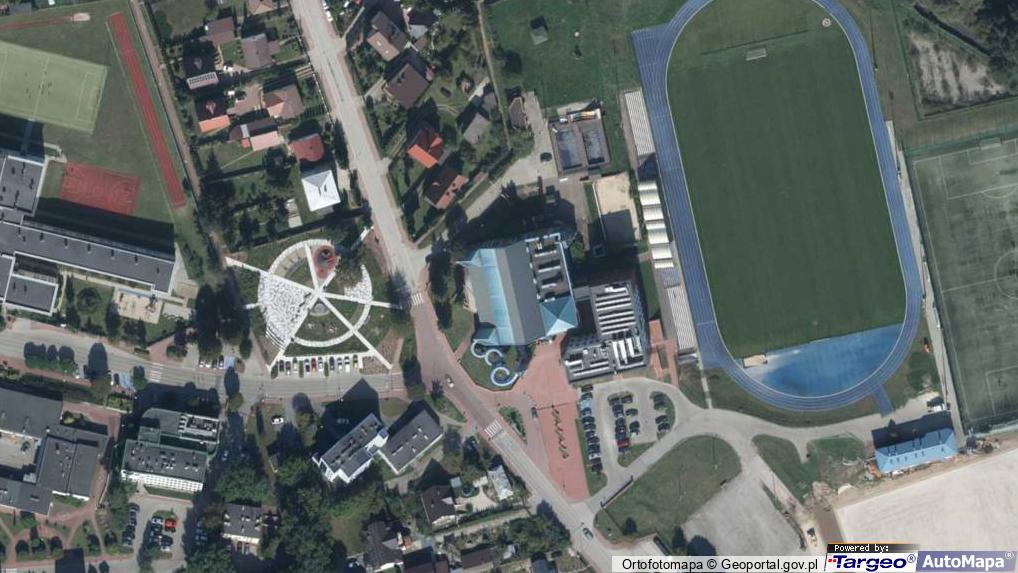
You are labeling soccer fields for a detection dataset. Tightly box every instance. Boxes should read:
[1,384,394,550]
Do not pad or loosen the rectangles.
[0,40,107,133]
[669,34,903,358]
[907,128,1018,442]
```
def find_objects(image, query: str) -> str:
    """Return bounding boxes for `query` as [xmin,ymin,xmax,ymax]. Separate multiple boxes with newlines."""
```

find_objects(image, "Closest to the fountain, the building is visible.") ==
[301,170,341,213]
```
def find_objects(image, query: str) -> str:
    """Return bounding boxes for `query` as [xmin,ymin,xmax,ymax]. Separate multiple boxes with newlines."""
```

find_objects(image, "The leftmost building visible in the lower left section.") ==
[0,387,110,518]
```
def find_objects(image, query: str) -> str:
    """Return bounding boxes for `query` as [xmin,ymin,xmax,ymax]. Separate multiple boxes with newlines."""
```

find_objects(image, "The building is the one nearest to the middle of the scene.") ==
[456,233,578,355]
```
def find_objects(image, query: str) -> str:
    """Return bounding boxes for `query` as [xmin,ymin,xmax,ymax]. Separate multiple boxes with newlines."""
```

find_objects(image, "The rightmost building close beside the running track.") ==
[875,428,959,476]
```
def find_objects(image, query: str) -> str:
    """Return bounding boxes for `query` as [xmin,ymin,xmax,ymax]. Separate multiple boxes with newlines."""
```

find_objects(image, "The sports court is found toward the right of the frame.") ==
[593,173,638,241]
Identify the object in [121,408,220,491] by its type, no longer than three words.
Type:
building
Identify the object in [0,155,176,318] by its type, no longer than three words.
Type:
building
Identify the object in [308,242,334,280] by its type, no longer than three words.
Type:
fountain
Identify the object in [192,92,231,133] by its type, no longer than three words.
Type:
house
